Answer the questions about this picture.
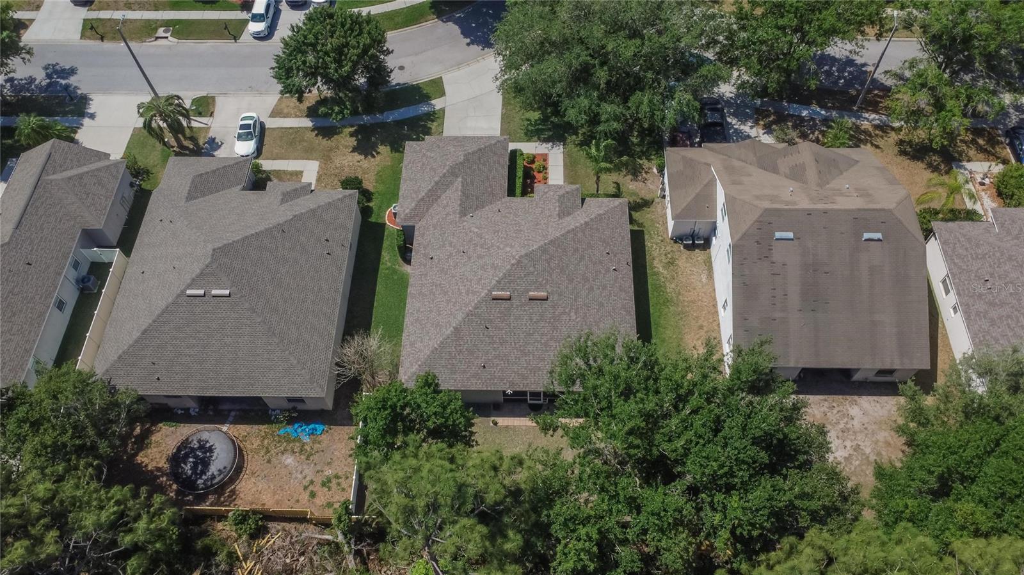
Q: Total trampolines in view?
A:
1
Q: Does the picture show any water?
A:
No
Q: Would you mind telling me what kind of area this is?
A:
residential area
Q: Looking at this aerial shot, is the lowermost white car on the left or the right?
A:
left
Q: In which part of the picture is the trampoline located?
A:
bottom left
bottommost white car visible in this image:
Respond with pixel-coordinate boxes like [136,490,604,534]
[232,111,263,160]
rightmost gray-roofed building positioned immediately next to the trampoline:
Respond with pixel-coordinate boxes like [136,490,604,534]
[86,156,360,408]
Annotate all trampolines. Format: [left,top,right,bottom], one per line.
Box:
[170,425,243,492]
